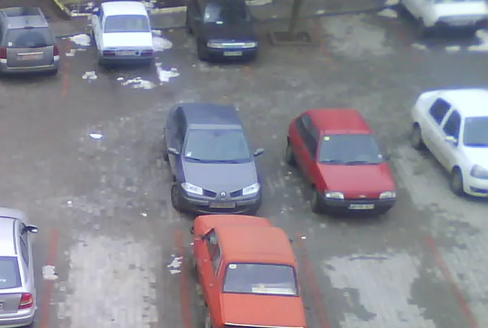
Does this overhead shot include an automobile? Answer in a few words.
Yes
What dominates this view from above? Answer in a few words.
paved ground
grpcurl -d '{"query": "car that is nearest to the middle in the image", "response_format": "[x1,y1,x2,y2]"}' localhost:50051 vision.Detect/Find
[158,104,262,213]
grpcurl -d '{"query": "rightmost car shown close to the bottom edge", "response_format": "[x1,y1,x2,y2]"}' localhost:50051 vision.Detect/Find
[186,214,311,328]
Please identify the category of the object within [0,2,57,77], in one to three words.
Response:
car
